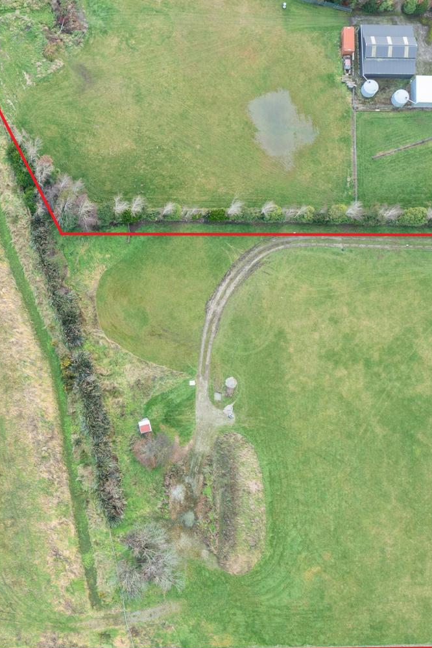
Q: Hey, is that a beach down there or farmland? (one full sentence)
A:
What you see here is farmland.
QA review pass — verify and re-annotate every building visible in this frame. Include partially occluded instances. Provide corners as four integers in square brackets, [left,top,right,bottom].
[360,23,419,83]
[139,421,152,435]
[406,74,432,106]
